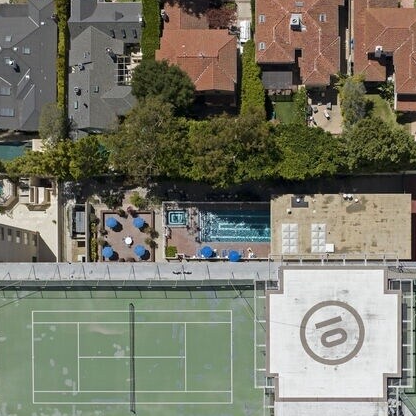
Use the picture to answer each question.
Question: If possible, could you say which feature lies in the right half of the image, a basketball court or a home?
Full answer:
Visible in the right half of the image is a home.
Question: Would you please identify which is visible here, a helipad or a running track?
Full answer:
Looking from above, you can make out a helipad.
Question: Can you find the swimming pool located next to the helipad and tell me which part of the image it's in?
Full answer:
The swimming pool located next to the helipad is in the center part of the image.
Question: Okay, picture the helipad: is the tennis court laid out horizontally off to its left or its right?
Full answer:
Compared with the helipad, the tennis court laid out horizontally is located further to the left.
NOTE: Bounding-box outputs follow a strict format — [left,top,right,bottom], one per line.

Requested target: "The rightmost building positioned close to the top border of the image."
[353,0,416,101]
